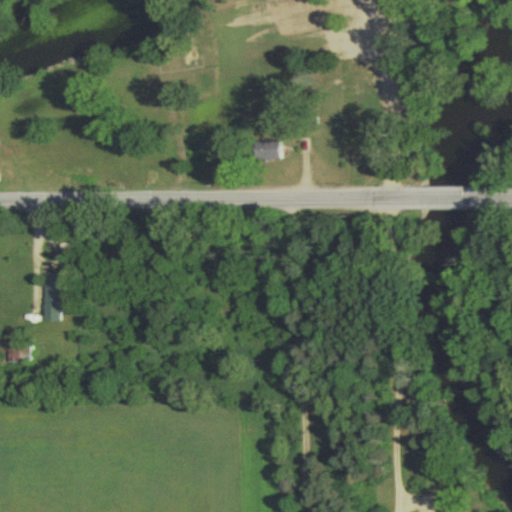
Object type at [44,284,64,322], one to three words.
house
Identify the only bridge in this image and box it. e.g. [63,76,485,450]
[426,184,466,212]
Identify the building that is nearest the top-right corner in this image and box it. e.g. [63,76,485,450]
[254,142,285,162]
